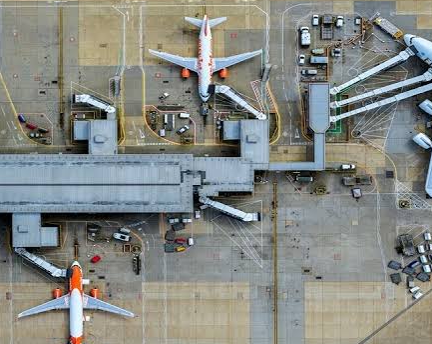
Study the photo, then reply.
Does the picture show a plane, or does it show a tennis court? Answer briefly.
plane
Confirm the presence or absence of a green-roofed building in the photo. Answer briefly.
No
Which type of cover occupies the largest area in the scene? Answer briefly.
paved ground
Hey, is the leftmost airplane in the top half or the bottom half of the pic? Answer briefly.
bottom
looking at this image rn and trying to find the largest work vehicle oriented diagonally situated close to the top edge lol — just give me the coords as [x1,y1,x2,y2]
[376,14,409,41]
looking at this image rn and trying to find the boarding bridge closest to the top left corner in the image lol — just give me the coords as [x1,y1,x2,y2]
[74,93,116,113]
